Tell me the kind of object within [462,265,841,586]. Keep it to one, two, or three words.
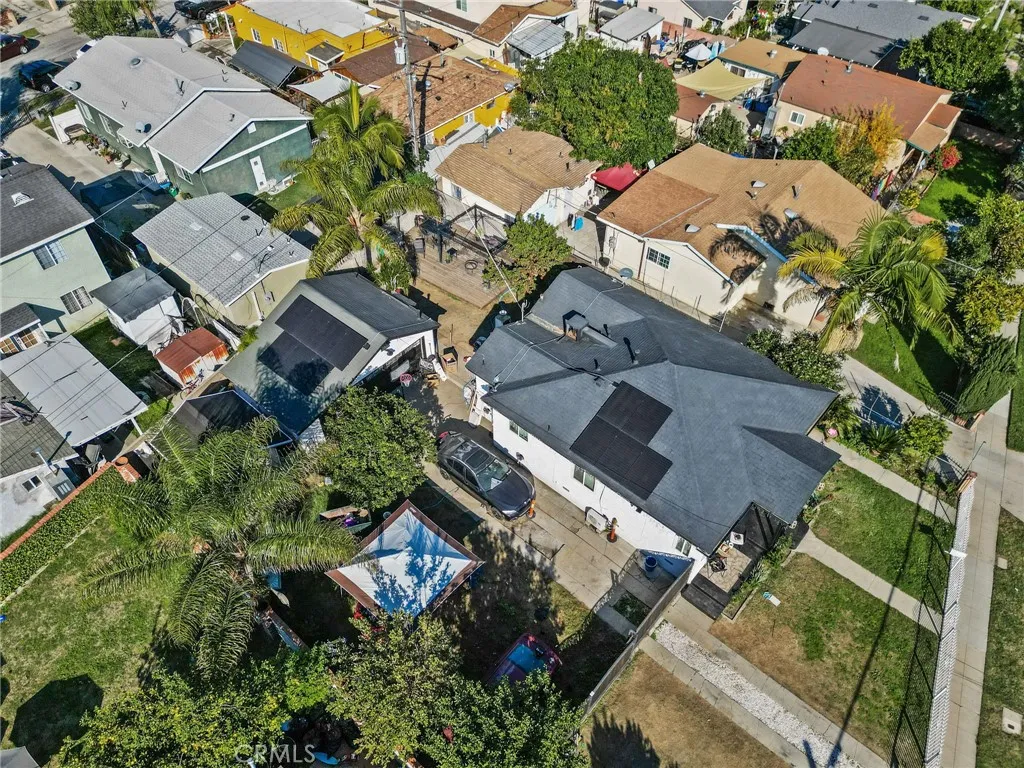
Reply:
house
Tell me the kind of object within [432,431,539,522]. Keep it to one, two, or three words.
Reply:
car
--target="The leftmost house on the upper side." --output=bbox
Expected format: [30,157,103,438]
[0,142,111,361]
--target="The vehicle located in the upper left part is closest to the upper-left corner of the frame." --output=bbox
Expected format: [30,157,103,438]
[0,30,36,56]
